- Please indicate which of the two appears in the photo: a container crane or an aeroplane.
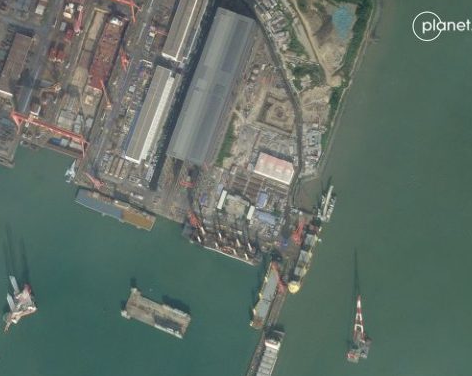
container crane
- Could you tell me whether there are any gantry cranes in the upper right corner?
No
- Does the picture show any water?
Yes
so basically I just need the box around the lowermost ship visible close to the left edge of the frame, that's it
[2,275,36,332]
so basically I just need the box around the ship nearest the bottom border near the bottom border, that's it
[253,323,287,376]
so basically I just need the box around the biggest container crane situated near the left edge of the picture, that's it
[11,113,91,161]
